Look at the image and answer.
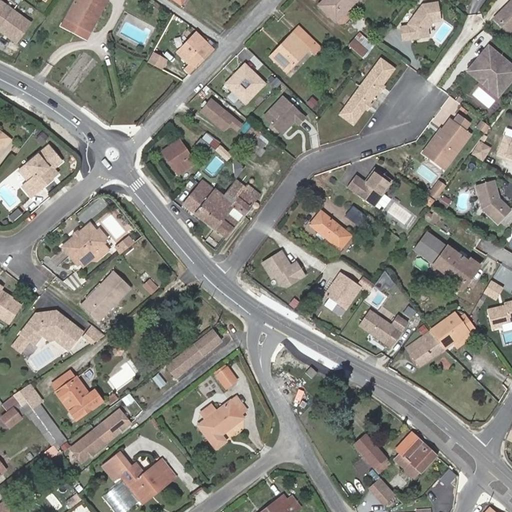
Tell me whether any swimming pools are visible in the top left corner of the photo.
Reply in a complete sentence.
Yes, I can see a swimming pool in the top left corner of the photo.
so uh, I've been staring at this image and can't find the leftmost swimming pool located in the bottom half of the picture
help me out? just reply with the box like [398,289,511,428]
[26,340,68,373]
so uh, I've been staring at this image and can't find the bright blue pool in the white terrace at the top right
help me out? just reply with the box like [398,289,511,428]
[430,19,454,47]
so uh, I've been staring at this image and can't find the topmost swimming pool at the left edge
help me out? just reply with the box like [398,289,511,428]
[0,170,24,212]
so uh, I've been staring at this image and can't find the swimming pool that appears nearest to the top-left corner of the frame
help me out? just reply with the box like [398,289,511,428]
[116,12,155,48]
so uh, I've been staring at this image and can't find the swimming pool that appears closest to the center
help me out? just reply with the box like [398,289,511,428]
[202,154,226,178]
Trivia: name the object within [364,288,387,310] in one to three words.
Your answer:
swimming pool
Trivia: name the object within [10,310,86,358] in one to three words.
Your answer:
house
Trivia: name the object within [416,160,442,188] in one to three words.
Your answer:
swimming pool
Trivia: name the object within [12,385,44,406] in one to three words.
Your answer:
barn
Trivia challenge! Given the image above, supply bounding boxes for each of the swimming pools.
[98,208,136,245]
[202,154,226,178]
[0,170,24,212]
[82,366,94,384]
[416,160,442,188]
[467,84,502,113]
[455,187,474,214]
[364,288,387,310]
[116,12,155,48]
[430,19,454,47]
[26,340,68,373]
[386,199,418,231]
[500,330,512,346]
